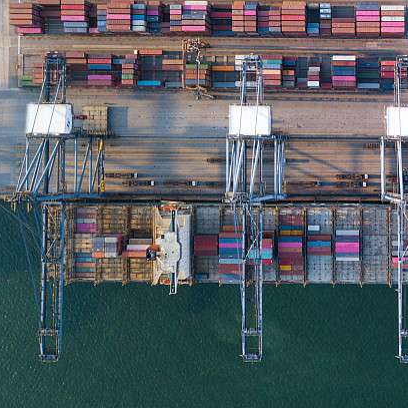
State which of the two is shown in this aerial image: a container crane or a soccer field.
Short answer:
container crane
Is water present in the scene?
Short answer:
Yes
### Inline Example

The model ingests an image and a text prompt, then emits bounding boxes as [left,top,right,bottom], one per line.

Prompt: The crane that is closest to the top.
[178,36,209,91]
